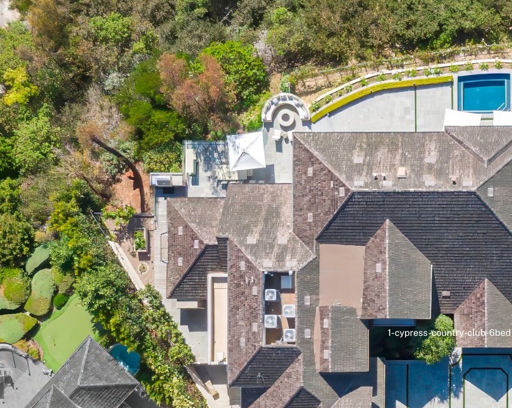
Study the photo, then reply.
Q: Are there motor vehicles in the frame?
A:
No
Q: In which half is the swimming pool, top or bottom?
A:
top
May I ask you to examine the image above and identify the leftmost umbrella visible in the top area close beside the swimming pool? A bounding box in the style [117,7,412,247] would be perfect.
[444,110,482,126]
